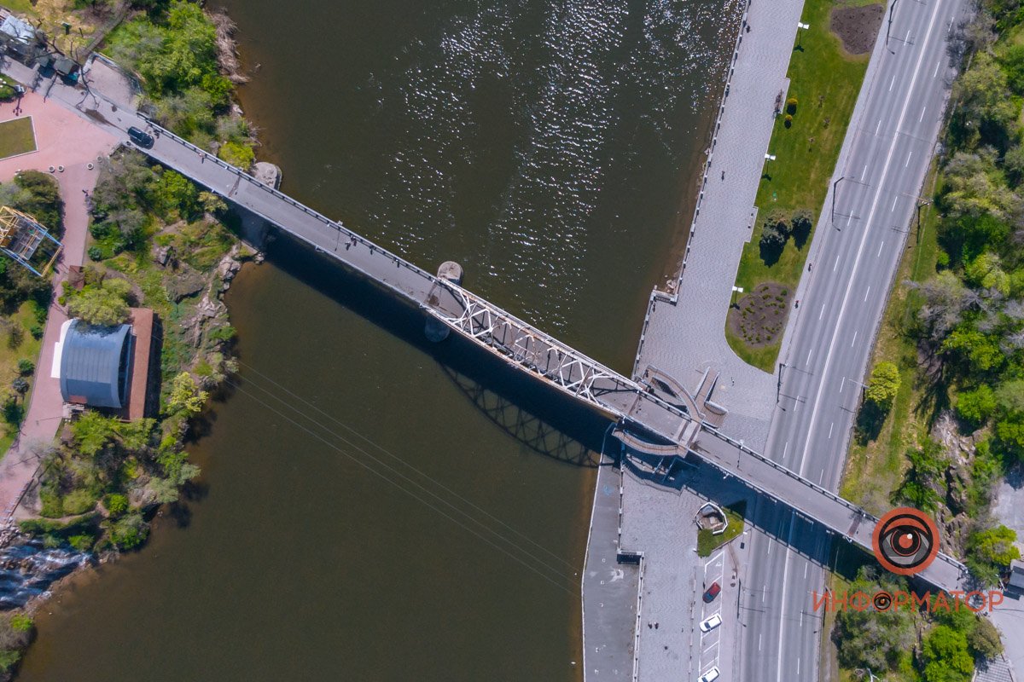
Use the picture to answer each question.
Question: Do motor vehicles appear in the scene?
Yes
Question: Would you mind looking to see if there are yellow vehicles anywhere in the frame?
No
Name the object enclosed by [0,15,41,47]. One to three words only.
building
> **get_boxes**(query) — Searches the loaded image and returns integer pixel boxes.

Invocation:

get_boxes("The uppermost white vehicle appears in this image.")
[697,614,723,631]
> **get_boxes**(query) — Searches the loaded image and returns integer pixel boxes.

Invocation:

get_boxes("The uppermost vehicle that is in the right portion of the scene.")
[702,580,722,602]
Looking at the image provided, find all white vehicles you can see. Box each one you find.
[696,665,720,682]
[697,614,723,631]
